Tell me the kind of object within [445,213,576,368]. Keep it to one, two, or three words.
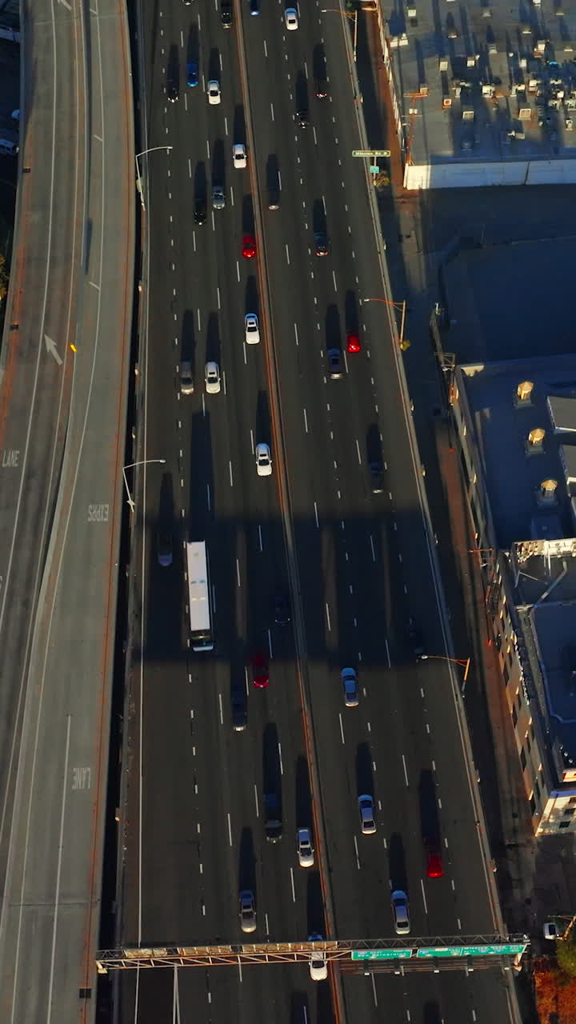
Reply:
shed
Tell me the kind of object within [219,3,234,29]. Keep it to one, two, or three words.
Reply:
vehicle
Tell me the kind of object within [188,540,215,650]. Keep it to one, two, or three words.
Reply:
bus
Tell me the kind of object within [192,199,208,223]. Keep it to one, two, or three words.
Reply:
car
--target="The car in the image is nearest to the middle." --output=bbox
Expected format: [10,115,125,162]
[256,444,273,476]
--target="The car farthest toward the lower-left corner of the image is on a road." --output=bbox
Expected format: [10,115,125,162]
[238,889,259,935]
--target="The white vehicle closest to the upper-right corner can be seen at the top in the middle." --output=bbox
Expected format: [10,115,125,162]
[284,11,298,29]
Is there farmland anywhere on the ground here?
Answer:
No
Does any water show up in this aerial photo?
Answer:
No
